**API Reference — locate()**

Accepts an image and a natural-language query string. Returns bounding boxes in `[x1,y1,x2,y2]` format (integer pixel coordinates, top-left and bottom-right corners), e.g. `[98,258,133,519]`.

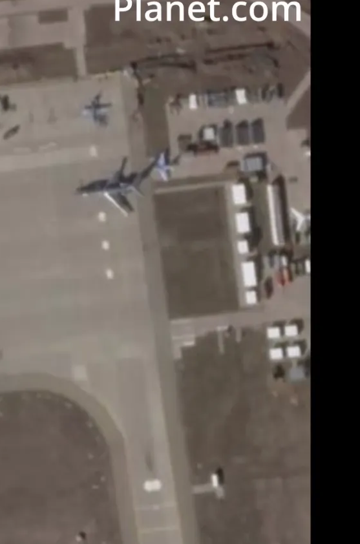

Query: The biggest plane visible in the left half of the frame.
[76,150,167,209]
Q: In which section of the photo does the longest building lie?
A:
right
